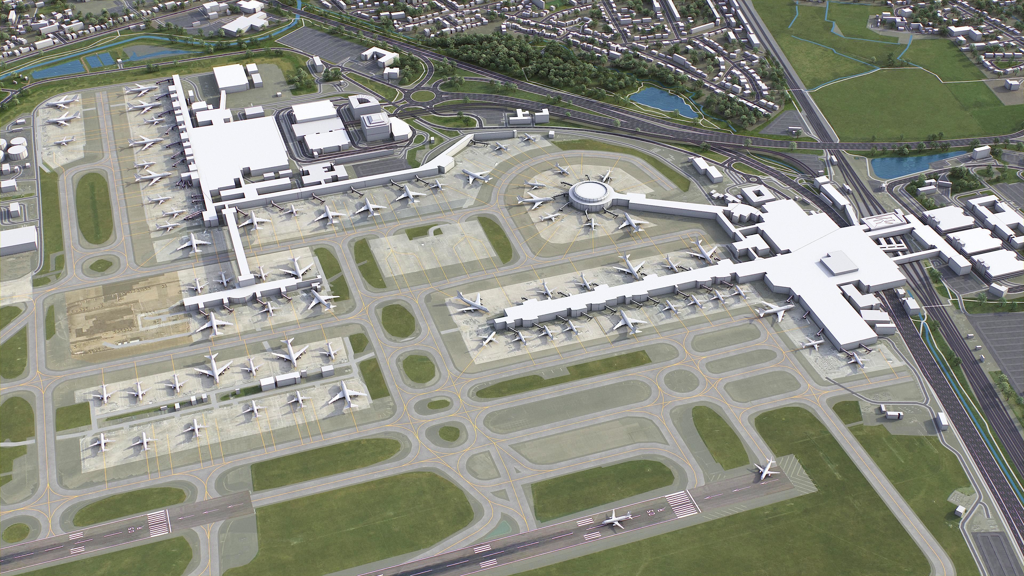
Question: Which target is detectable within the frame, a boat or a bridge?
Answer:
bridge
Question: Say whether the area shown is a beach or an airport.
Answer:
airport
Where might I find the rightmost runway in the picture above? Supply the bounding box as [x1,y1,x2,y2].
[350,466,795,576]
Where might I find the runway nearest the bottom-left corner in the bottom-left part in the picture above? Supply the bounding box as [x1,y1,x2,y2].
[0,490,254,573]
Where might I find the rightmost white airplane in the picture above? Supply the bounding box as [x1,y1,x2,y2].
[848,352,871,368]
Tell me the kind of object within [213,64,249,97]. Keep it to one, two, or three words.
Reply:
hangar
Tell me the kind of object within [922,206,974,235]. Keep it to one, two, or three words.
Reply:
building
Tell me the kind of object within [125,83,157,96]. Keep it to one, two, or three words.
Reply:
airplane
